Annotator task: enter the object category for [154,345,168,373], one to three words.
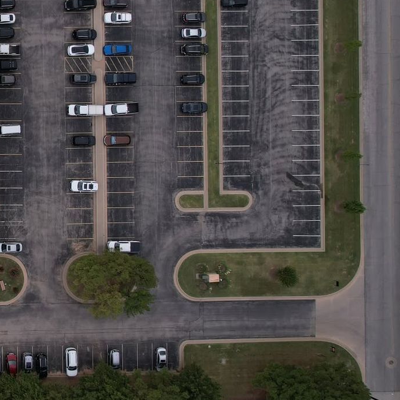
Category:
car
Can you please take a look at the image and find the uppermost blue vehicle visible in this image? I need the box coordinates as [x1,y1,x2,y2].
[103,42,131,56]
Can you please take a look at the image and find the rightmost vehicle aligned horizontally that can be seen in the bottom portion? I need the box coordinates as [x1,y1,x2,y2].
[105,240,141,254]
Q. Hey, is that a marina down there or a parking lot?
parking lot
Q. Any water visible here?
No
